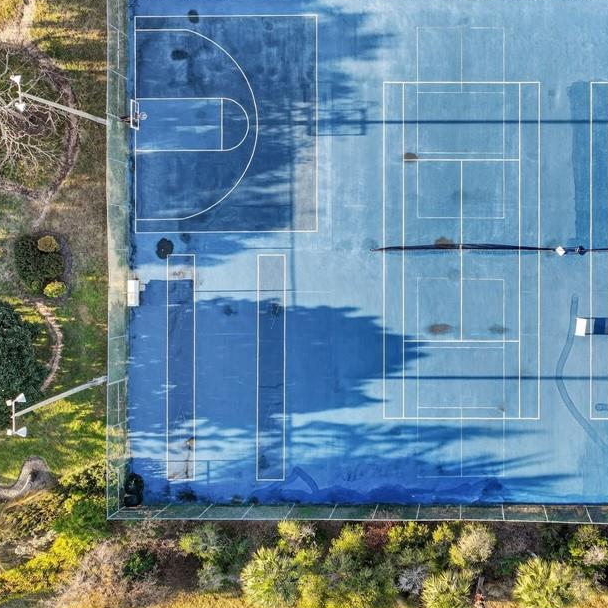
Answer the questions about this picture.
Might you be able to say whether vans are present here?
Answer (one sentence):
No, there appears to be no van in this shot.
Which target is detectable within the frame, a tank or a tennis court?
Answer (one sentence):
This aerial view contains a tennis court.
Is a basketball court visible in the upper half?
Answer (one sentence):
Yes, a basketball court is visible in the upper half.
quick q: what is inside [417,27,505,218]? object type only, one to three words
sports court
